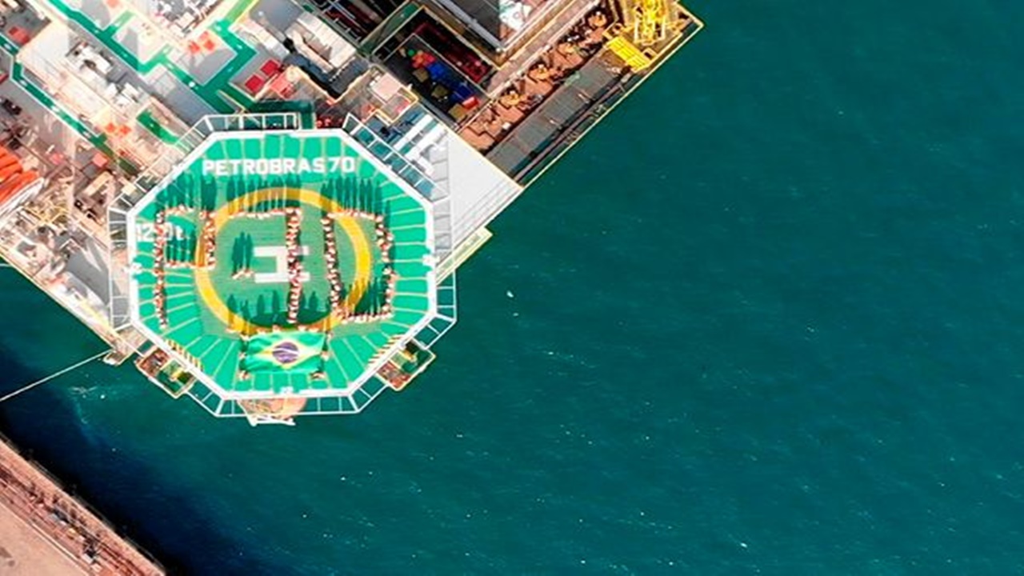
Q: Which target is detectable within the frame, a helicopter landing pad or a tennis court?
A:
helicopter landing pad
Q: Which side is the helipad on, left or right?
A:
left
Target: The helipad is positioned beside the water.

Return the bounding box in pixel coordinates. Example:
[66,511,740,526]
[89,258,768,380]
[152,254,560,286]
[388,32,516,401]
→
[108,113,456,416]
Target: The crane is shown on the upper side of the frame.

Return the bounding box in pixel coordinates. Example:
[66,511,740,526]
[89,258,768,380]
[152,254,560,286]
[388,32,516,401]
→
[617,0,682,59]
